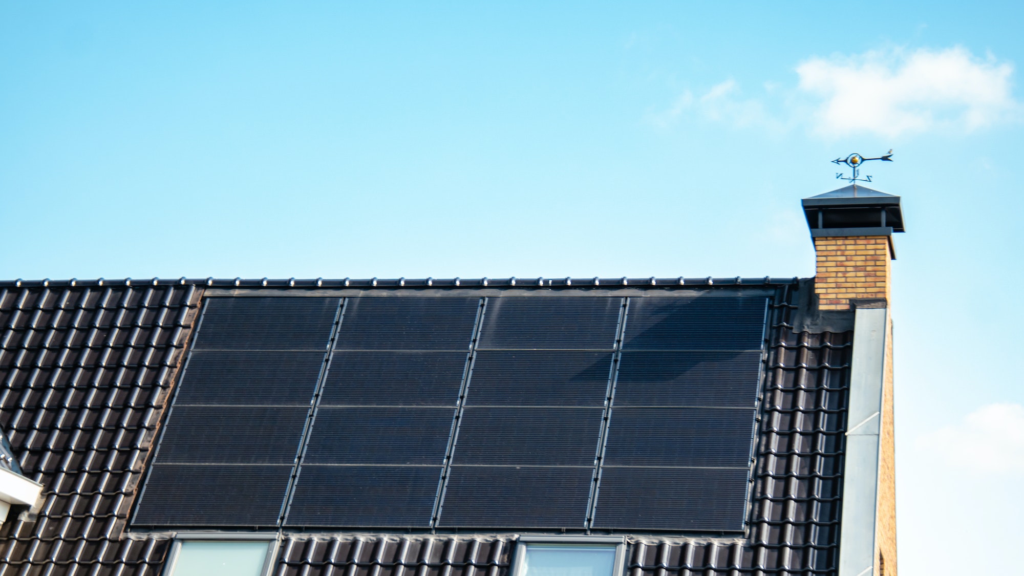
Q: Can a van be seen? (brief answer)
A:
No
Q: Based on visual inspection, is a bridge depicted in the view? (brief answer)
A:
No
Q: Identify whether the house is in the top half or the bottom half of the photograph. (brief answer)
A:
bottom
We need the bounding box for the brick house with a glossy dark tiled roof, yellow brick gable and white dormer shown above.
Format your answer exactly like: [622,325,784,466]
[0,183,903,576]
